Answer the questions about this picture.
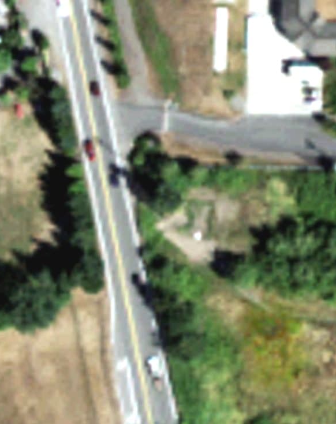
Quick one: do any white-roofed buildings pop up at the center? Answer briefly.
No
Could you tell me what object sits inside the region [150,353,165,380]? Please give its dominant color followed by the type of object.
white vehicle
